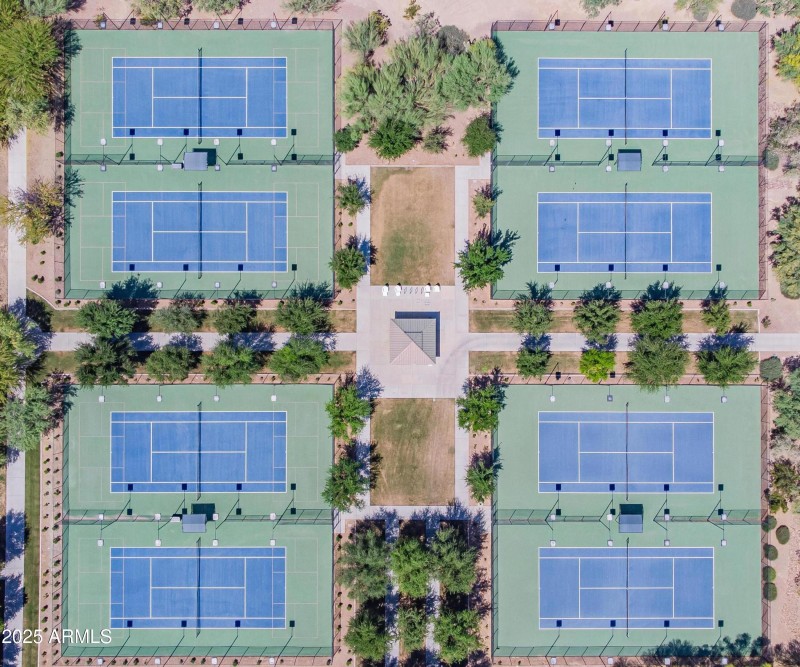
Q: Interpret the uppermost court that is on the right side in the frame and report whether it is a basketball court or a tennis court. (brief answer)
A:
tennis court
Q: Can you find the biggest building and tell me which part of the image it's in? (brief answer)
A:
center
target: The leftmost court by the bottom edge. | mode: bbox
[62,521,333,656]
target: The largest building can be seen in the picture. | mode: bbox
[390,319,436,365]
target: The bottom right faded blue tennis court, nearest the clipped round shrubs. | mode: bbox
[492,521,761,656]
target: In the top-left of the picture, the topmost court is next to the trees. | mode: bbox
[63,30,334,165]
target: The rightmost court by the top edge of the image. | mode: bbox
[491,31,759,165]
